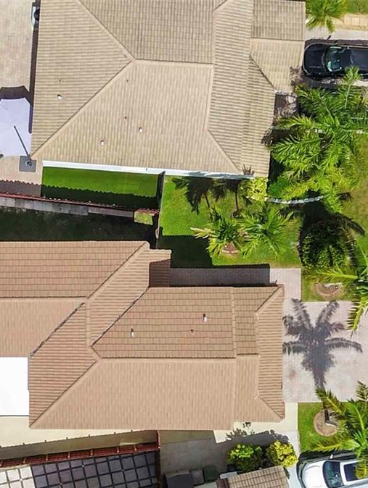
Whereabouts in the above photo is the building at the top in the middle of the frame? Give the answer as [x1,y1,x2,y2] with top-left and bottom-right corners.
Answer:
[31,0,303,181]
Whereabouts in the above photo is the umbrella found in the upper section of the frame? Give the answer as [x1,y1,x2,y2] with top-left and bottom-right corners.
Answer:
[0,99,36,179]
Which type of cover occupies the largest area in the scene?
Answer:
buildings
